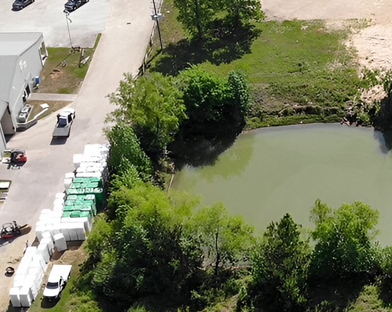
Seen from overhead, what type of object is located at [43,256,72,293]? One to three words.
truck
